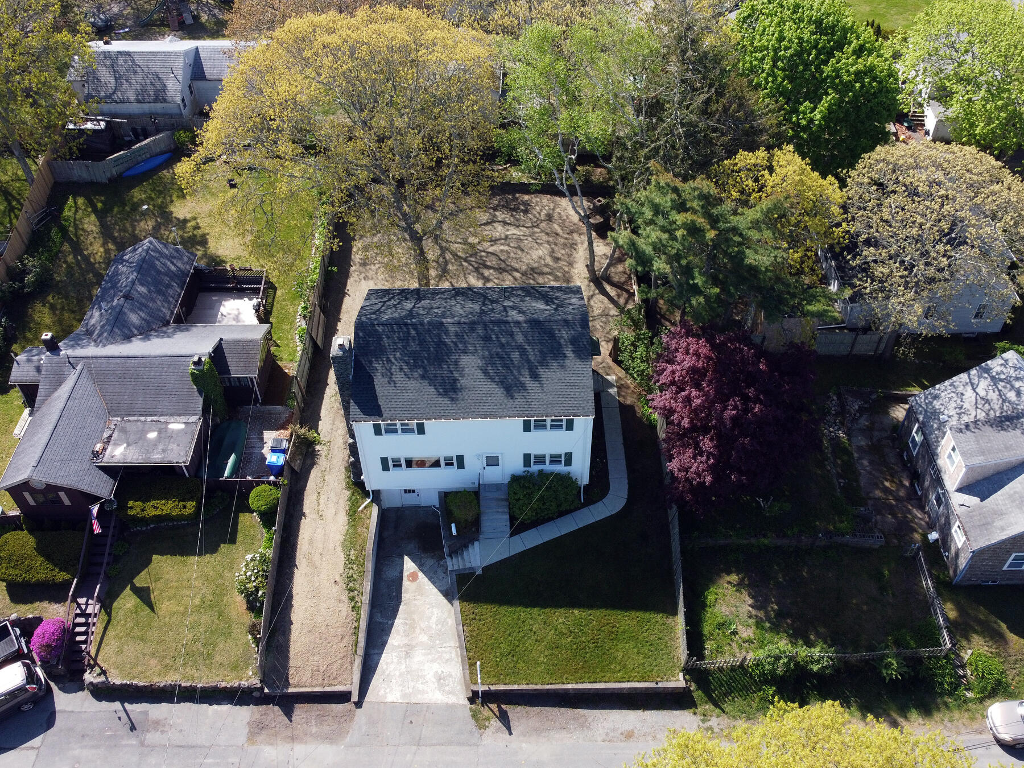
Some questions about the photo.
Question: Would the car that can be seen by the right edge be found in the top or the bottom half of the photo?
bottom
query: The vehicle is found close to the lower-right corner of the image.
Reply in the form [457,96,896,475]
[984,704,1024,752]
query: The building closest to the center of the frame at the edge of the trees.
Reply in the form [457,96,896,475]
[327,288,597,511]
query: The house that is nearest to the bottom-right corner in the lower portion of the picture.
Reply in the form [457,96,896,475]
[906,366,1024,589]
